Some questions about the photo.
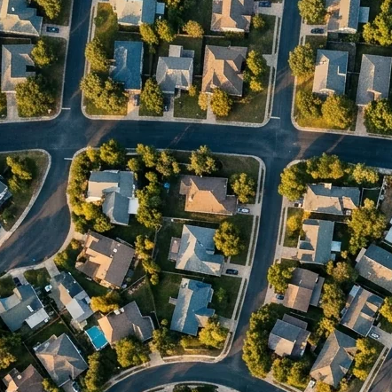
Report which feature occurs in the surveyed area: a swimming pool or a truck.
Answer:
swimming pool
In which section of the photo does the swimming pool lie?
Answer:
bottom left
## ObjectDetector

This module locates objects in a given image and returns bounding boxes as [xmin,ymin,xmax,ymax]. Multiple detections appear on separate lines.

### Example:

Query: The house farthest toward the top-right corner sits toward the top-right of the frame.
[324,0,369,36]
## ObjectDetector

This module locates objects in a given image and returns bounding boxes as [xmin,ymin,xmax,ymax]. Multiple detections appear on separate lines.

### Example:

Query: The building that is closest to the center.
[176,174,237,217]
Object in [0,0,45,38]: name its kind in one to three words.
house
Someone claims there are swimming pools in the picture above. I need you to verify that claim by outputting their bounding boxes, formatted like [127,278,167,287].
[85,324,111,353]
